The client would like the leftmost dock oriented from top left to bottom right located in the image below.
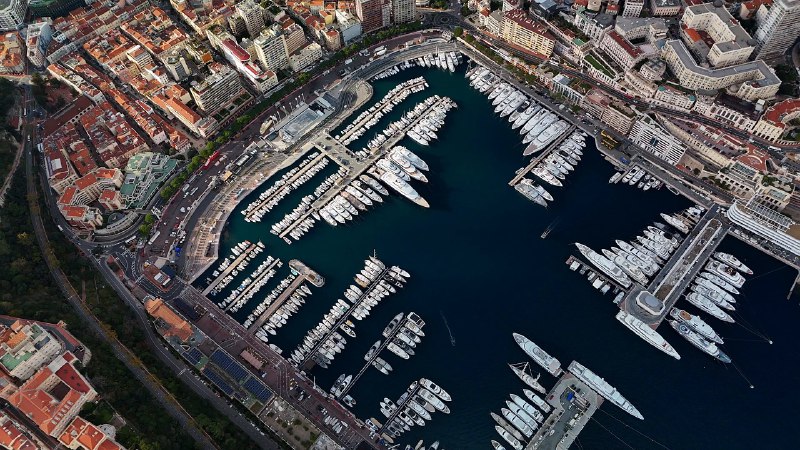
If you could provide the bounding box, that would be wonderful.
[287,259,327,291]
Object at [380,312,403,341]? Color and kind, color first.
gray boat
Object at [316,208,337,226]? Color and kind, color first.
white boat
